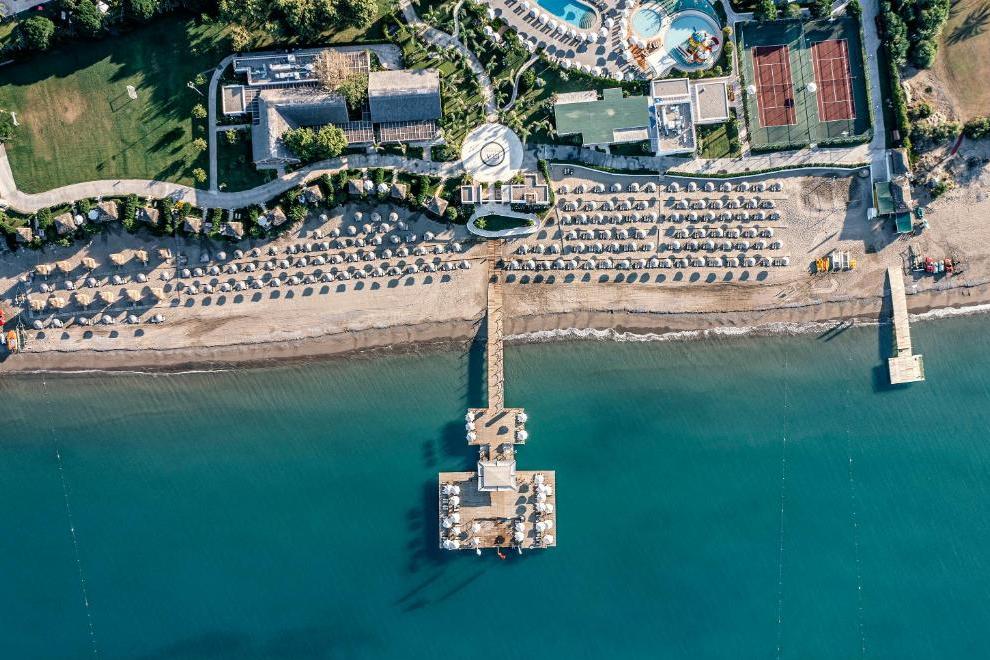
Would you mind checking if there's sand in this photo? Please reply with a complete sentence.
Yes, some sand is visible.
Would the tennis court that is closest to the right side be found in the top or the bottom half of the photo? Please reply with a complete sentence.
The tennis court that is closest to the right side is in the top half of the image.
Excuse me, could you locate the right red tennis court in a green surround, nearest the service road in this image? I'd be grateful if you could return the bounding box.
[803,16,867,141]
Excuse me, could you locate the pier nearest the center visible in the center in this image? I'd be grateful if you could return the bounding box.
[439,244,556,549]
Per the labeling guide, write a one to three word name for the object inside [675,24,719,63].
playground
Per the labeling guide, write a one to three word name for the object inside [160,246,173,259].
umbrella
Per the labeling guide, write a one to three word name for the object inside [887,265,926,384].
pier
